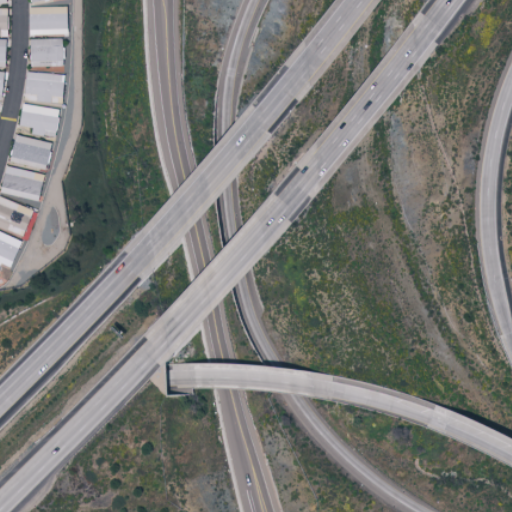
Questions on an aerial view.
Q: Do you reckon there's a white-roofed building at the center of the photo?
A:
No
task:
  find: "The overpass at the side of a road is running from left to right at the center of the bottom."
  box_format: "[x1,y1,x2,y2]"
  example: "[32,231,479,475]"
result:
[170,364,314,398]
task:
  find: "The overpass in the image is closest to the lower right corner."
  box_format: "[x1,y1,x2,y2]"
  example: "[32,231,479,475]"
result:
[437,406,512,468]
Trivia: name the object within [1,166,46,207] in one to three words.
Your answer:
house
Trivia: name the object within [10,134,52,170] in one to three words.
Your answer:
house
